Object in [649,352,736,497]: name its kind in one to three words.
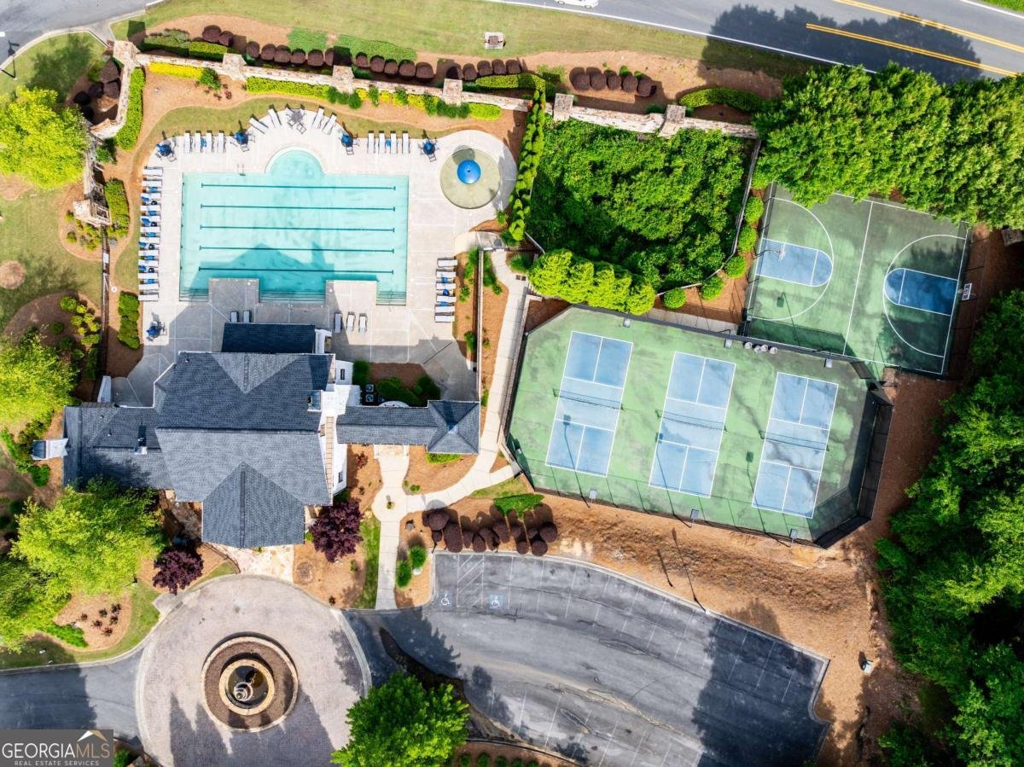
sports court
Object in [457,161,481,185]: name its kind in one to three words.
fountain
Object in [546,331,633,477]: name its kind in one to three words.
sports court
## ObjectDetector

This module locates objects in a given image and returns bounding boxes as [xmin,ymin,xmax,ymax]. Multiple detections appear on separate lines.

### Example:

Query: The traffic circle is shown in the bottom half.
[136,575,371,767]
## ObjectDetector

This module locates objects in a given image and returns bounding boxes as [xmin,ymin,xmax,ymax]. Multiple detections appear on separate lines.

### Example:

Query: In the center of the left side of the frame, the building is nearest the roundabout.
[32,322,480,553]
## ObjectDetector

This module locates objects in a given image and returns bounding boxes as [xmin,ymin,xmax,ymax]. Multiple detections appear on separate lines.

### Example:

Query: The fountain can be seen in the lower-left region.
[218,658,276,716]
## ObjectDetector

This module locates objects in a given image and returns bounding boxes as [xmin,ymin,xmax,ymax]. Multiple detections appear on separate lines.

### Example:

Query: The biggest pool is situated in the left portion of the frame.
[111,108,517,406]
